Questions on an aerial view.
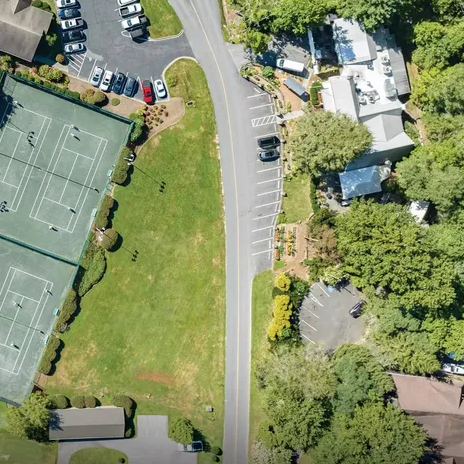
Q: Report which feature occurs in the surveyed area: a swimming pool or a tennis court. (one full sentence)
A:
Of the two, only a tennis court appears.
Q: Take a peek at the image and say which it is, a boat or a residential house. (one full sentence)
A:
Looking from above, you can make out a residential house.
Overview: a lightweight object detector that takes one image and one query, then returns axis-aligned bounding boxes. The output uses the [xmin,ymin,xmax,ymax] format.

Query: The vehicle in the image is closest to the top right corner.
[276,59,307,73]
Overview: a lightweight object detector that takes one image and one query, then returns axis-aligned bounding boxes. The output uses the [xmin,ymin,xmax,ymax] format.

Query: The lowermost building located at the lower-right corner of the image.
[406,412,464,464]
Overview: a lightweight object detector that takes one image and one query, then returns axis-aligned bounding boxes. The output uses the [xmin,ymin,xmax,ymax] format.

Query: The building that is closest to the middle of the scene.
[334,166,382,198]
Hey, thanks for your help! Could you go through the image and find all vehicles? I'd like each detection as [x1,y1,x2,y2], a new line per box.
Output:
[154,79,166,99]
[59,9,79,19]
[91,67,103,86]
[122,15,147,29]
[61,30,85,43]
[258,150,279,160]
[276,59,307,73]
[175,439,200,451]
[64,43,83,53]
[442,362,464,374]
[60,17,84,30]
[141,80,153,104]
[118,3,142,18]
[117,0,135,6]
[112,73,124,93]
[125,27,149,41]
[124,77,136,97]
[346,302,364,317]
[257,136,278,146]
[100,70,112,90]
[56,0,76,9]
